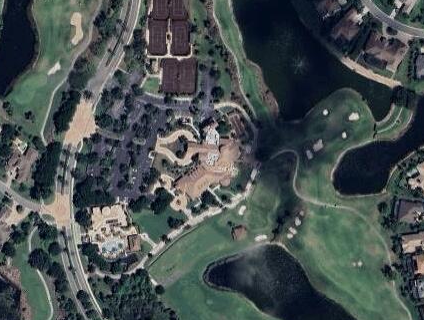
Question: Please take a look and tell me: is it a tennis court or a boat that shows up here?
tennis court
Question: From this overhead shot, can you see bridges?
No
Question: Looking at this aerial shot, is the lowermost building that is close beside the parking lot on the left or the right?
left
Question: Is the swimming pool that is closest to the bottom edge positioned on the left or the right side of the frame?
left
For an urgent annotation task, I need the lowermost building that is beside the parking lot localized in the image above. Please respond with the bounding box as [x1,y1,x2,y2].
[92,205,128,227]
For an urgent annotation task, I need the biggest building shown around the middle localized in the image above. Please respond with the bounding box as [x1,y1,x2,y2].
[173,118,243,202]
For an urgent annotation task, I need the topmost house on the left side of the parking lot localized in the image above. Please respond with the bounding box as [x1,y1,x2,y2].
[0,148,37,182]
